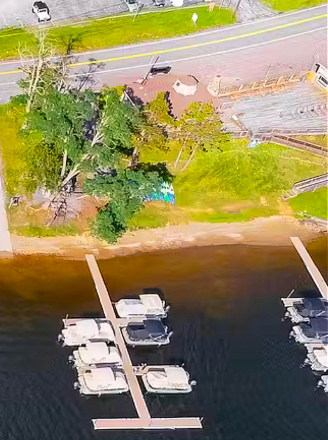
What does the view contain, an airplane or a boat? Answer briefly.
boat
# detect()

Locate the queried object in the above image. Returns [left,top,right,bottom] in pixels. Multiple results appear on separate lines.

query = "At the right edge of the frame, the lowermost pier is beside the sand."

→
[279,237,328,307]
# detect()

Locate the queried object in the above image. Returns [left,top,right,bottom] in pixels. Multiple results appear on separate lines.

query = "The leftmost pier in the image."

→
[61,254,205,432]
